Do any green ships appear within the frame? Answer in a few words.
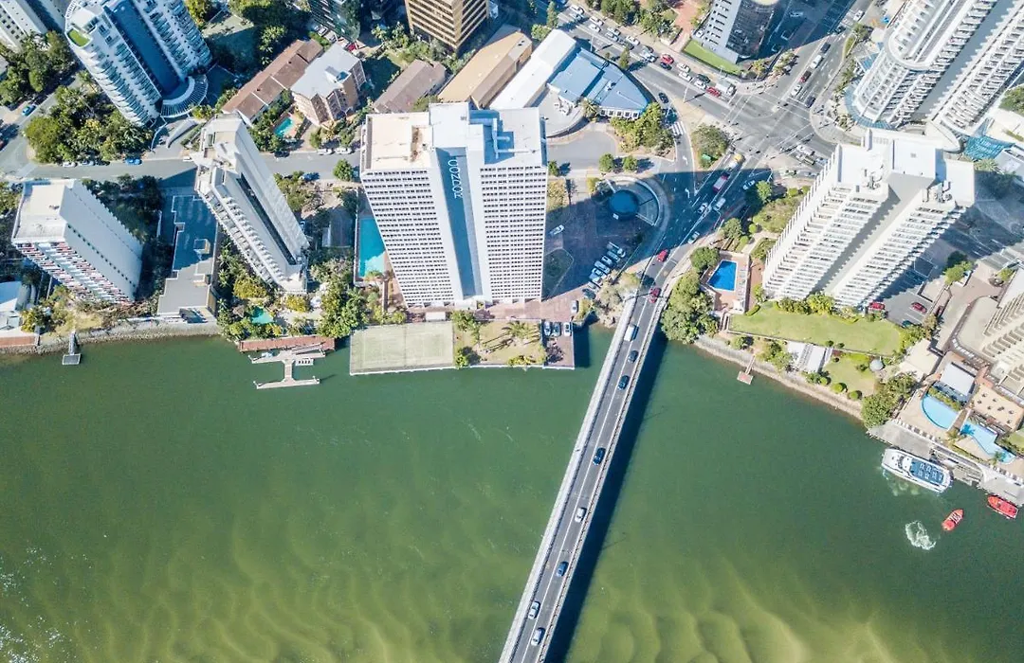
No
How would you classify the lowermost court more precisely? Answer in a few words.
tennis court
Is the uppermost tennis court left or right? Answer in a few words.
left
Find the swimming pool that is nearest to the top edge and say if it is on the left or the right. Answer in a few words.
left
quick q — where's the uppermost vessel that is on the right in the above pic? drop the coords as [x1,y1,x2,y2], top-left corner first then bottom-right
[881,449,953,491]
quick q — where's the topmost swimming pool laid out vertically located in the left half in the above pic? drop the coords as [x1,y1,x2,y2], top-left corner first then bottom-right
[357,215,388,280]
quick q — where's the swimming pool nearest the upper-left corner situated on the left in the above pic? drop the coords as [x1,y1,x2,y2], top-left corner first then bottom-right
[272,116,295,136]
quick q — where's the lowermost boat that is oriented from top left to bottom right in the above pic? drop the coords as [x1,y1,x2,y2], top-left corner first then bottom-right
[987,498,1019,520]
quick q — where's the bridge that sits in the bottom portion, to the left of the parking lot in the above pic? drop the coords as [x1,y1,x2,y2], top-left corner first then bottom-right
[499,252,689,663]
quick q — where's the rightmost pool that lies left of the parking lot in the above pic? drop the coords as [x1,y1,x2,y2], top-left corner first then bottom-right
[707,258,739,292]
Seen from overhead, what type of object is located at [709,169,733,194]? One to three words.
bus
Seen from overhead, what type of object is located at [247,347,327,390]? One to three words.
pier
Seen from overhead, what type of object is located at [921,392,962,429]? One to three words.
swimming pool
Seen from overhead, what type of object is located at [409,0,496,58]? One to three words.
building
